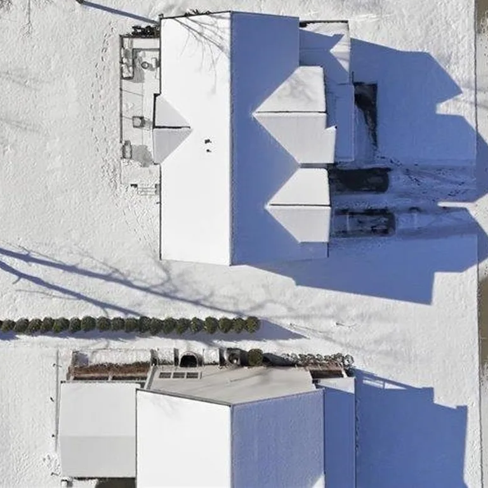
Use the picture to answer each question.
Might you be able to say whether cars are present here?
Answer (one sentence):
No, there is no car in the image.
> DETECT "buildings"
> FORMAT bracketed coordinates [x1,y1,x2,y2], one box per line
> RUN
[56,364,357,488]
[151,10,354,265]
